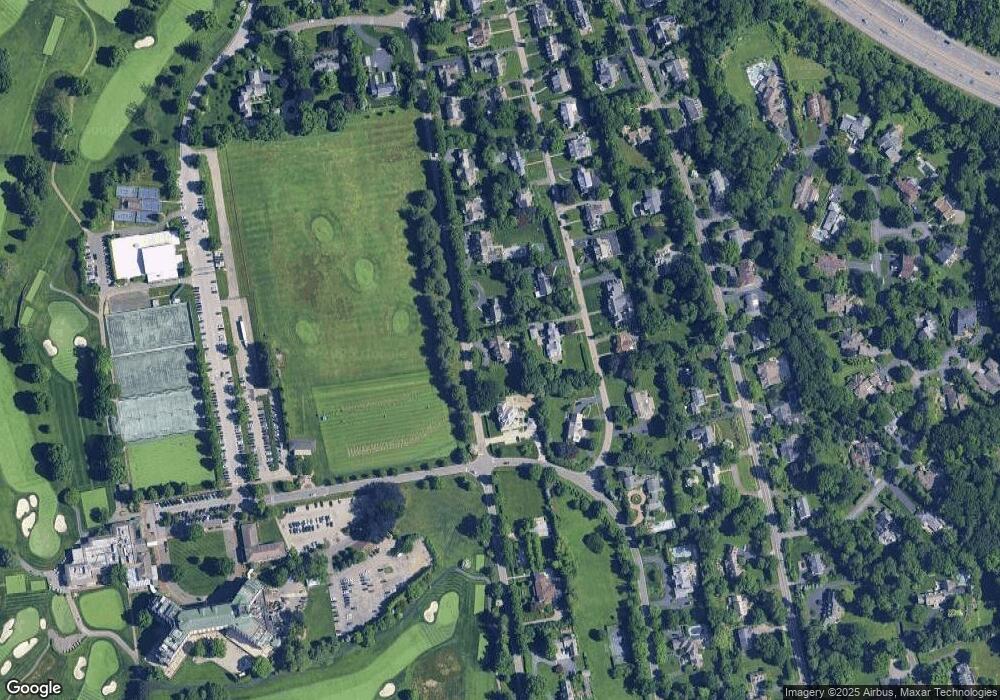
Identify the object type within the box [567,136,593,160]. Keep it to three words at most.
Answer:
house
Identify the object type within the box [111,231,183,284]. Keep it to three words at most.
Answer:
building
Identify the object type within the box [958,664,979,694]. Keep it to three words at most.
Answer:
house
